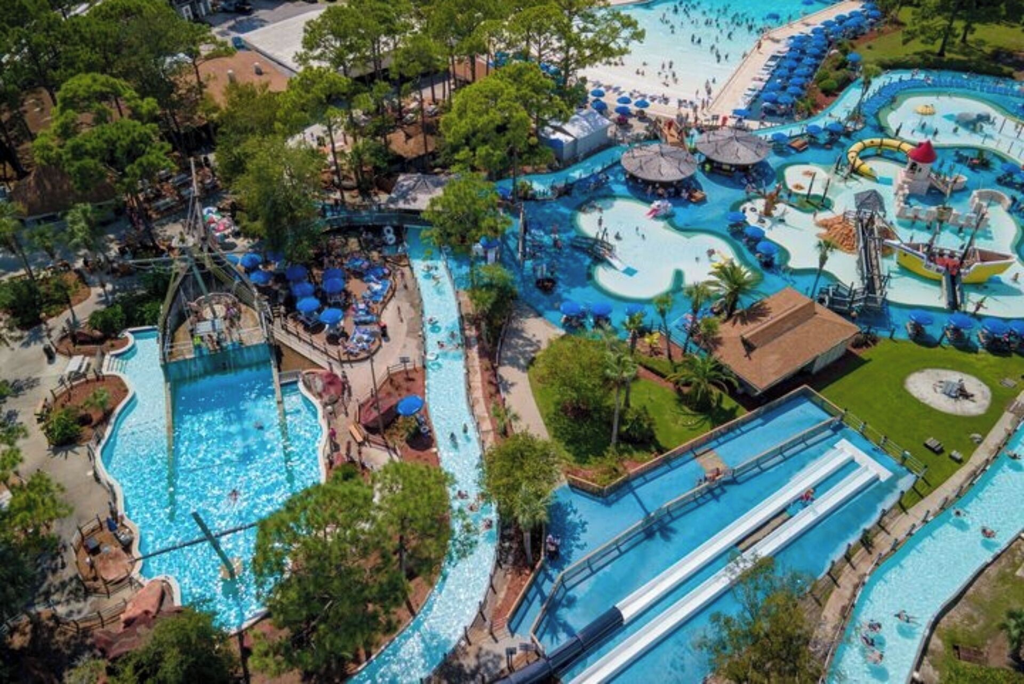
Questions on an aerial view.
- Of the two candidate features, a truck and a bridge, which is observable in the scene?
bridge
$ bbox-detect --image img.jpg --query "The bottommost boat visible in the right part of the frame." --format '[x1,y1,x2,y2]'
[894,211,1024,309]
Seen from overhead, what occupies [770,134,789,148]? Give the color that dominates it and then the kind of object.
blue umbrella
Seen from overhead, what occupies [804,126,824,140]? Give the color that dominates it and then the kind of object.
blue umbrella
